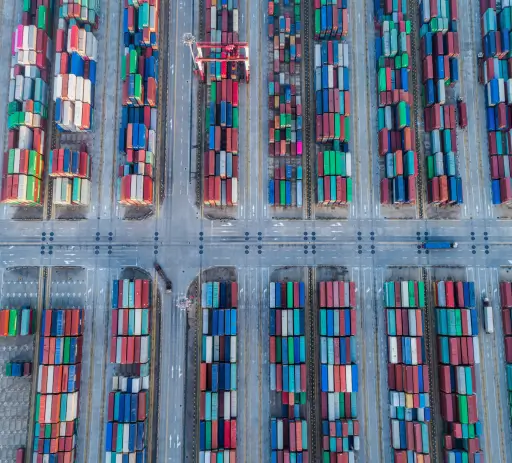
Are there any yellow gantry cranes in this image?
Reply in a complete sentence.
No, there appears to be no yellow gantry crane in this shot.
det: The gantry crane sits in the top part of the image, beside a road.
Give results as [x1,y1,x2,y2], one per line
[197,40,250,82]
